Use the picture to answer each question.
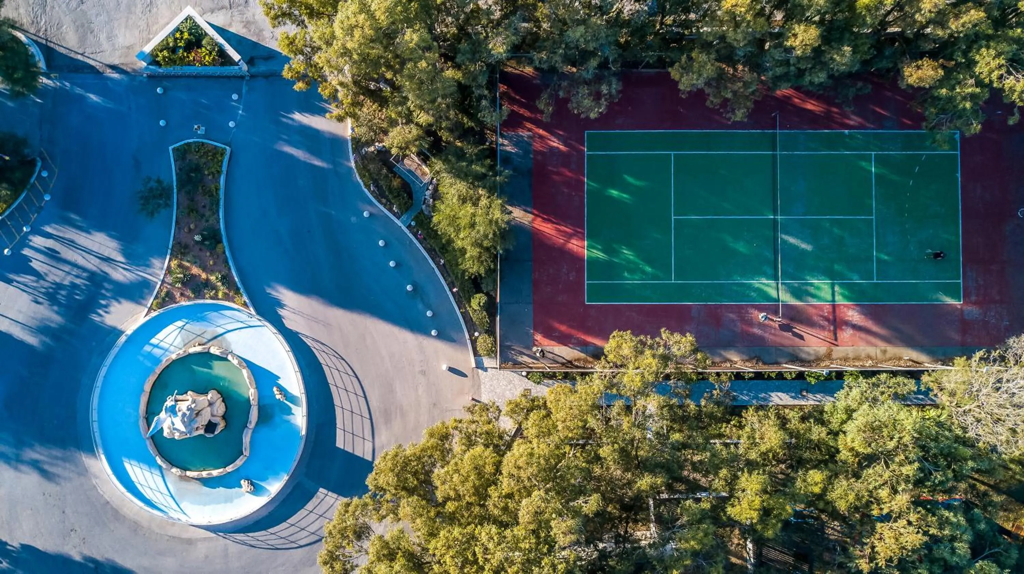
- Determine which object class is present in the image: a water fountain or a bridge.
water fountain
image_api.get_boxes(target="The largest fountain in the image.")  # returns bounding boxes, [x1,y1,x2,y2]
[86,297,321,533]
